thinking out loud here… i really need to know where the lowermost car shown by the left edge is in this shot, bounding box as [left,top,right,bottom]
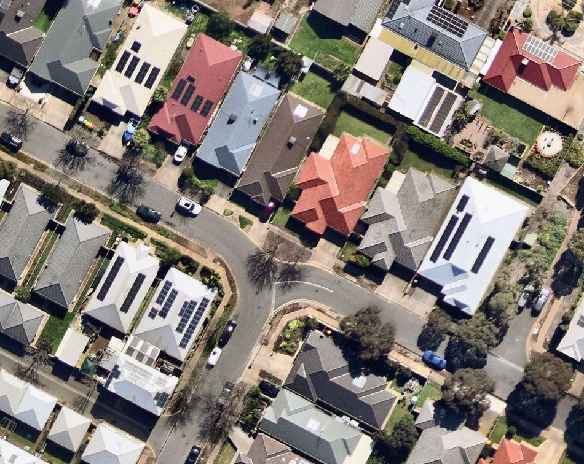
[0,132,24,152]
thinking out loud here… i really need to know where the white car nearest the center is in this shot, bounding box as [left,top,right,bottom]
[175,197,202,215]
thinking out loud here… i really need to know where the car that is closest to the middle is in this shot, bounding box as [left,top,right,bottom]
[258,199,275,222]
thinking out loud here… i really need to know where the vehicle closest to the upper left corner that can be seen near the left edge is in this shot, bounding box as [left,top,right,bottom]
[3,67,22,97]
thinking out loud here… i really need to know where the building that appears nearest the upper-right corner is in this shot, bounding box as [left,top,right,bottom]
[484,25,584,129]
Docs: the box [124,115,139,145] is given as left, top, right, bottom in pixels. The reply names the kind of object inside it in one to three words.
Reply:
boat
